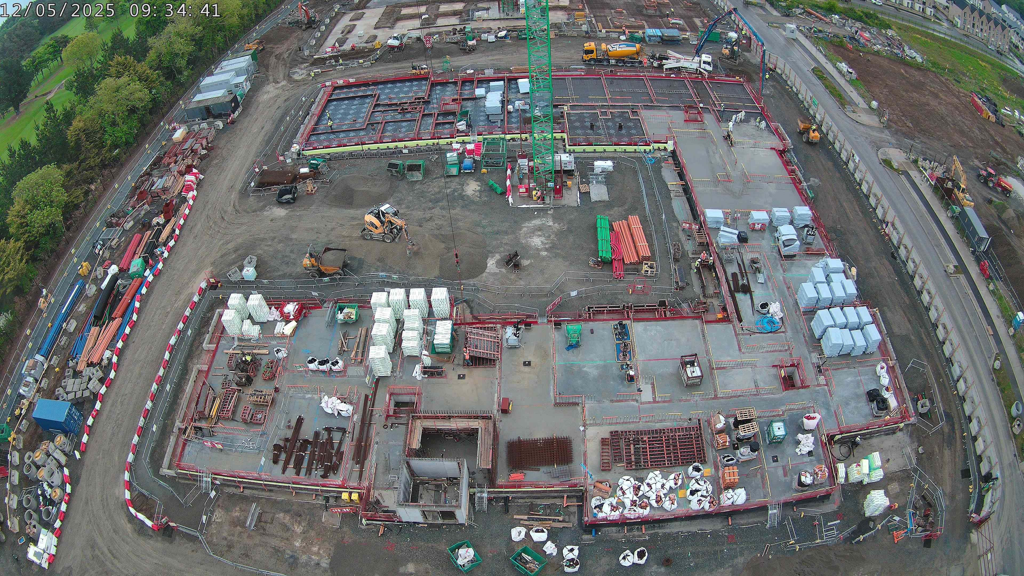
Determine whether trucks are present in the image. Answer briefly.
Yes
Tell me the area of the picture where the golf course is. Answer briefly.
top left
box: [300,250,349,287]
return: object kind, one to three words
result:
truck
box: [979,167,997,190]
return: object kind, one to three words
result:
work vehicle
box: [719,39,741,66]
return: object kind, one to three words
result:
work vehicle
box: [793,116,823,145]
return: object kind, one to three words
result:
truck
